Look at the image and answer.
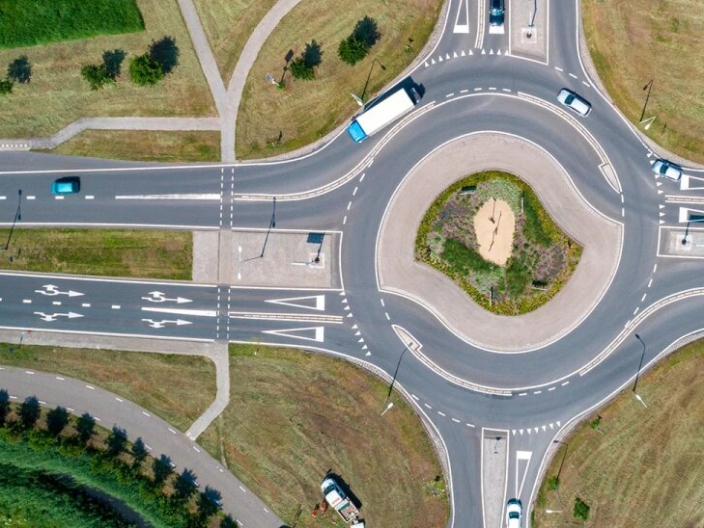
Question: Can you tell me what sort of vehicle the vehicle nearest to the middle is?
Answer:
truck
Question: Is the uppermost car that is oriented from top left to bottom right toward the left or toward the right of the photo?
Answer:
right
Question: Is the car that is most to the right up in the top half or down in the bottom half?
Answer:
top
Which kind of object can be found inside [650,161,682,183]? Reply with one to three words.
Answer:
car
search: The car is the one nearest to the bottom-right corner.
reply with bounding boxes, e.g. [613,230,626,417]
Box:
[507,502,521,528]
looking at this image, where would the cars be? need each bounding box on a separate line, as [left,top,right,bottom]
[650,161,682,183]
[556,91,590,116]
[488,0,504,25]
[52,180,80,194]
[507,502,521,528]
